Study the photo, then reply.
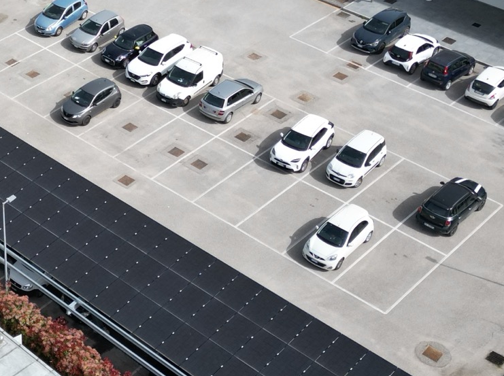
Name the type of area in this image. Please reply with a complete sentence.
It's a parking lot.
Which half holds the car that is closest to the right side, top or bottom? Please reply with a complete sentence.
The top half of the photo is where the car that is closest to the right side is.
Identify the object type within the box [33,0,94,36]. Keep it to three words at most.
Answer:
car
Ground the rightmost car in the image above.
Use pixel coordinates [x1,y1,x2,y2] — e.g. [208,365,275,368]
[465,65,504,109]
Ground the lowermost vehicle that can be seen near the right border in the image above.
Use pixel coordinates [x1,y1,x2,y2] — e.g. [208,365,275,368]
[415,175,490,237]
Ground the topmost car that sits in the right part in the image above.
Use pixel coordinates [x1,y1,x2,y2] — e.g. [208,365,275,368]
[353,4,413,52]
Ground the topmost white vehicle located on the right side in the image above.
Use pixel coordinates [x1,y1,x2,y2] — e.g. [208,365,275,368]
[385,32,442,74]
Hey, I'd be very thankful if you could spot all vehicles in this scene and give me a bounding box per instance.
[327,127,393,187]
[271,113,342,172]
[68,7,129,52]
[33,0,94,36]
[415,175,490,237]
[125,33,194,86]
[385,32,442,74]
[304,203,377,271]
[101,21,162,67]
[154,44,226,106]
[419,47,475,90]
[57,74,123,126]
[353,4,413,52]
[465,65,504,109]
[196,75,267,124]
